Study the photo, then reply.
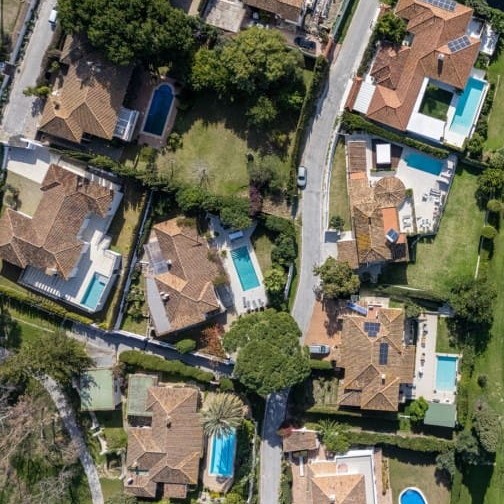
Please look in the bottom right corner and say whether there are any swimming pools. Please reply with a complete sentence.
Yes, a swimming pool is visible in the bottom right corner.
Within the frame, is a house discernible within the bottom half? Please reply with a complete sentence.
Yes, a house shows up within the bottom half.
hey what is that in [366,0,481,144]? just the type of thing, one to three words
house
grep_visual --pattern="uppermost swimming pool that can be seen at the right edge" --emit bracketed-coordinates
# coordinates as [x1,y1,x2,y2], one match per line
[448,76,488,139]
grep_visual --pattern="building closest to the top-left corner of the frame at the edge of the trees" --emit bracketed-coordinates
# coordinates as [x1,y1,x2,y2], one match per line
[39,30,142,142]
